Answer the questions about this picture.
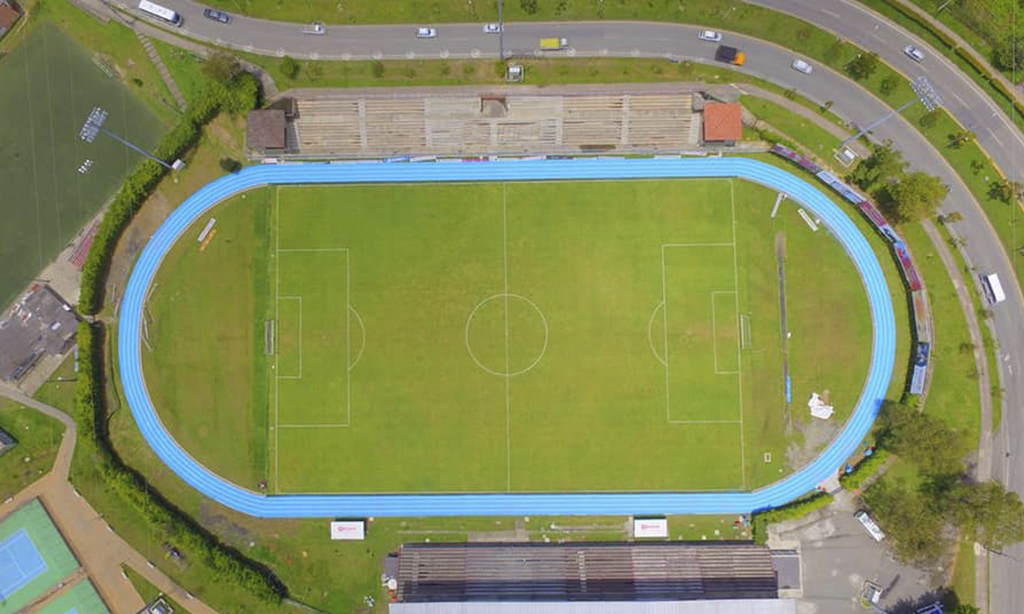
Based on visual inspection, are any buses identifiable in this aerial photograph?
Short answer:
Yes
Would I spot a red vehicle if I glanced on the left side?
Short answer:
No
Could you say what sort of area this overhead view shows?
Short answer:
sports ground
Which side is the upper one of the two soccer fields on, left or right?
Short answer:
left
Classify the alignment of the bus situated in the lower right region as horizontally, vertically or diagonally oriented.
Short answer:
diagonally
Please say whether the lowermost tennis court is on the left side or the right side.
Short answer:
left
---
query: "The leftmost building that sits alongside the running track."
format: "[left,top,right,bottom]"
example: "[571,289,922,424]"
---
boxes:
[0,287,86,384]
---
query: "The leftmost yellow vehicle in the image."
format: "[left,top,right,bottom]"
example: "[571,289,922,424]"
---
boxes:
[540,36,567,50]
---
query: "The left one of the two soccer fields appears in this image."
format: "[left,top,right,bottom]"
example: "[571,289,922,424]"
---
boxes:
[0,20,167,310]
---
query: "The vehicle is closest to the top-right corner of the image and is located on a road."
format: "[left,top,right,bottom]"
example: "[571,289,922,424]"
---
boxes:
[904,46,924,61]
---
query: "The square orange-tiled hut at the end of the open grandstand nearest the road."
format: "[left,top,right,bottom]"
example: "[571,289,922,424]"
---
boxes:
[700,102,742,146]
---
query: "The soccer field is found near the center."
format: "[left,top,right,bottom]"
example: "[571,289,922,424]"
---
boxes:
[268,180,748,495]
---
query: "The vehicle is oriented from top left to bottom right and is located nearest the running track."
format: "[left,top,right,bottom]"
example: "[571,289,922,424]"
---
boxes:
[850,508,885,543]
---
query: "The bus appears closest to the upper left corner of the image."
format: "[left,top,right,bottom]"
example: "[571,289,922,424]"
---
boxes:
[138,0,186,27]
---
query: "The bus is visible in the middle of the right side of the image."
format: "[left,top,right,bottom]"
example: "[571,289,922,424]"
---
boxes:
[977,273,1007,305]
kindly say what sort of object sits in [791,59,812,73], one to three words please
car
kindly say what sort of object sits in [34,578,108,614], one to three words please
tennis court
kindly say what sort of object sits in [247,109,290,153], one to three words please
shed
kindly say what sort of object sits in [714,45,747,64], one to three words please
vehicle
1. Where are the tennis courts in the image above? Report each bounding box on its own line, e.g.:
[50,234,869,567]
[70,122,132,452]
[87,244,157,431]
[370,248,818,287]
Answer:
[0,498,79,614]
[34,578,108,614]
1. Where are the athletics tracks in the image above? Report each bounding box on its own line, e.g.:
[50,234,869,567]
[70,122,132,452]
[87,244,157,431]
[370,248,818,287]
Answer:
[119,157,896,518]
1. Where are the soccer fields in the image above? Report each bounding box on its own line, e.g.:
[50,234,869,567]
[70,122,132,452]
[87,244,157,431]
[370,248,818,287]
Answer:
[0,20,167,310]
[268,180,748,495]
